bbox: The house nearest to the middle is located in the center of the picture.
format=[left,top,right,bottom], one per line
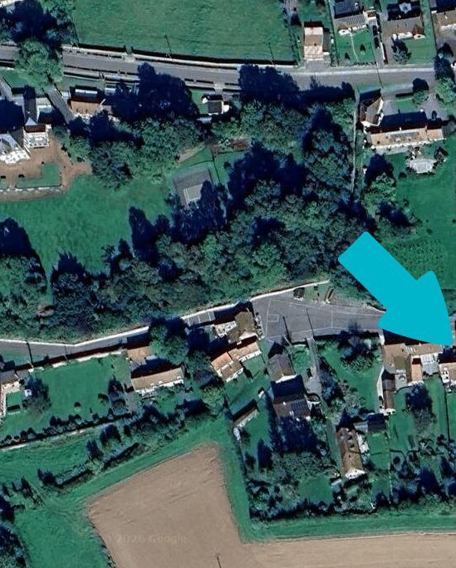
[226,312,257,345]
